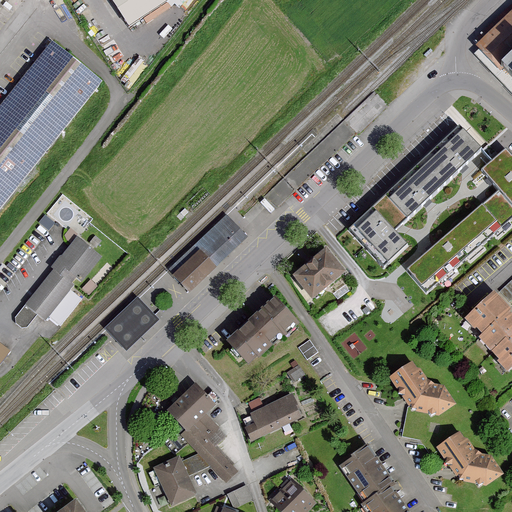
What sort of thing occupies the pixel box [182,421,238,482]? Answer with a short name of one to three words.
barn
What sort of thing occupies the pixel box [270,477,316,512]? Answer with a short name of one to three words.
house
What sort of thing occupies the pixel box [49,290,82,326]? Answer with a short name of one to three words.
building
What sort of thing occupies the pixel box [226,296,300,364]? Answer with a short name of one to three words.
house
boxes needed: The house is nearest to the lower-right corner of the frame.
[438,432,504,486]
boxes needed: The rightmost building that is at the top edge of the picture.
[476,9,512,76]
